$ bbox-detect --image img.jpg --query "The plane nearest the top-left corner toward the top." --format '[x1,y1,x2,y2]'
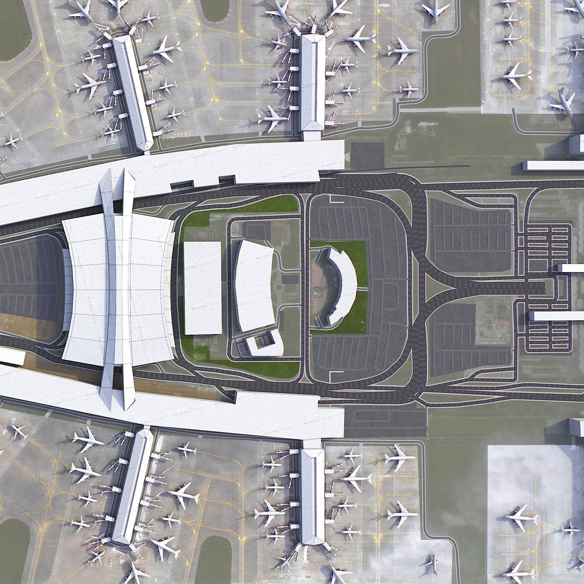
[69,0,93,23]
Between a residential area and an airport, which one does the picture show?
airport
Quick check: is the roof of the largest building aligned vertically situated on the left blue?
No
